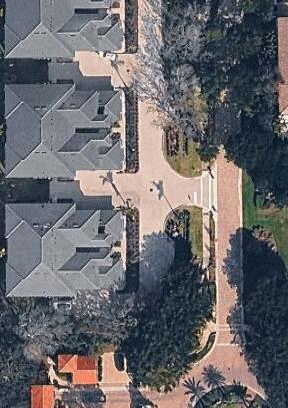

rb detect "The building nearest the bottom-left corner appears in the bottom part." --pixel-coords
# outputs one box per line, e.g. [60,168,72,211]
[30,385,54,408]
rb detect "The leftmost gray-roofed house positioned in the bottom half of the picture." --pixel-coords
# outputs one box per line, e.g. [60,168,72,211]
[4,203,123,298]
